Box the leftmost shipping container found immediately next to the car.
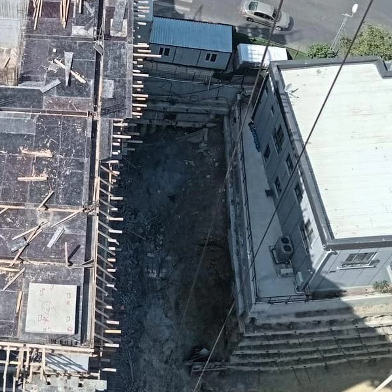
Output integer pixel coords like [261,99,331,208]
[149,17,232,71]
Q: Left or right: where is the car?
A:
right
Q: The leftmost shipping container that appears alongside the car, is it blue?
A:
Yes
